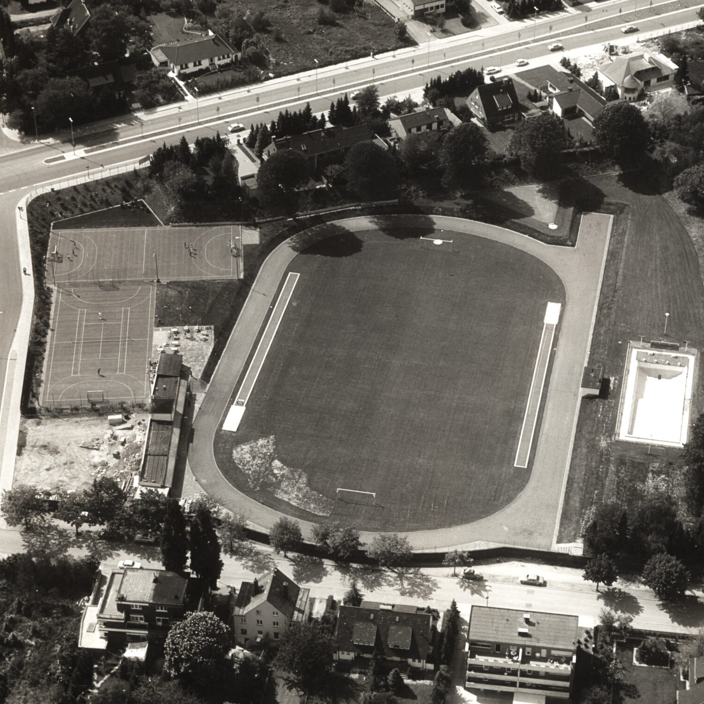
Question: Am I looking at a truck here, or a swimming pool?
swimming pool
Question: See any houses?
Yes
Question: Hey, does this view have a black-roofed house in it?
Yes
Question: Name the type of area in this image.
sports ground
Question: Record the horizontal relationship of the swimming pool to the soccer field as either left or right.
right of it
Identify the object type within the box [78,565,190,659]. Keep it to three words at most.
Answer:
house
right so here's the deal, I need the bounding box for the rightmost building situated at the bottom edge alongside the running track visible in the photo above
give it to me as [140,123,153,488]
[464,605,578,704]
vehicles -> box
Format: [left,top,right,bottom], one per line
[486,65,501,75]
[118,558,142,569]
[491,3,504,13]
[621,24,638,33]
[547,42,564,51]
[458,570,483,582]
[513,57,530,66]
[520,575,544,586]
[349,90,359,98]
[227,124,246,132]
